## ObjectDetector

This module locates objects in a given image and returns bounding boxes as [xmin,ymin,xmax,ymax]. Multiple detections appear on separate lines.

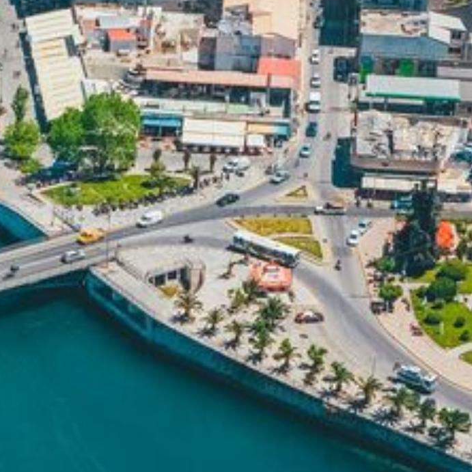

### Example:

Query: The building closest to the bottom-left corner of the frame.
[147,262,203,294]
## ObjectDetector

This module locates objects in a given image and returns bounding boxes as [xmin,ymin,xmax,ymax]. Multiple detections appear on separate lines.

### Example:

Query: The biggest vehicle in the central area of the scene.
[231,228,300,268]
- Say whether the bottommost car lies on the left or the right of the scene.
right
